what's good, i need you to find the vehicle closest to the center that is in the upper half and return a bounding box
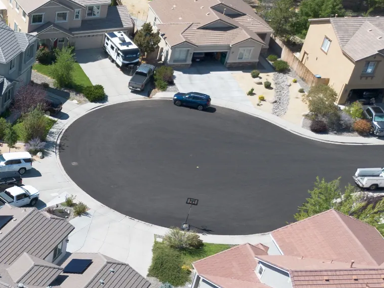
[169,91,216,114]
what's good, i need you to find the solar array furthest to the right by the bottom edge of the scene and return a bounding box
[65,257,101,277]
